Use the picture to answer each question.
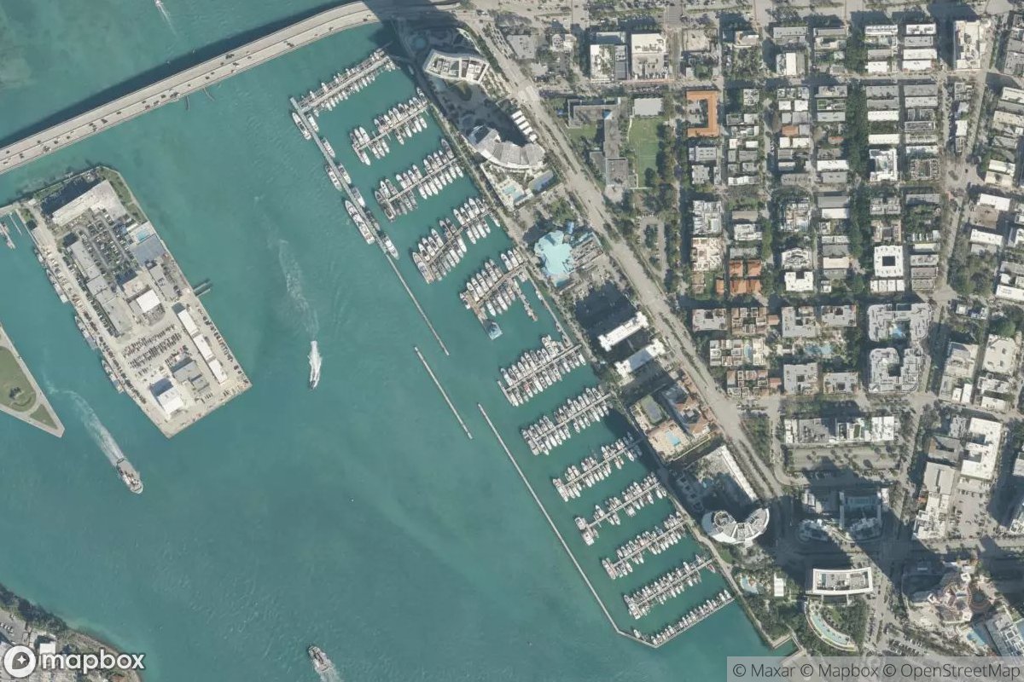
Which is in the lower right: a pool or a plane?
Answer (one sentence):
Visible in the lower right is a pool.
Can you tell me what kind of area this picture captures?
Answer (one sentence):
The picture captures a port.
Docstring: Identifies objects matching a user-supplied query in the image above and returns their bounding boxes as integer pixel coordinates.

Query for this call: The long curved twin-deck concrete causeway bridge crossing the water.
[0,0,381,170]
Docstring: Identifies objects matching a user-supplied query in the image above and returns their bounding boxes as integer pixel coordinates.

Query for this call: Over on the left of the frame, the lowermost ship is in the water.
[309,645,329,672]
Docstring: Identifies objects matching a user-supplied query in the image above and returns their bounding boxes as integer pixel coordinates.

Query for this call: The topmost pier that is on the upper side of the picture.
[301,51,391,111]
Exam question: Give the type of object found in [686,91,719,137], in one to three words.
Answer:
building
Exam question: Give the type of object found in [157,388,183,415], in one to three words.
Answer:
hangar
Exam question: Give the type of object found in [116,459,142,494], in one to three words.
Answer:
ship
